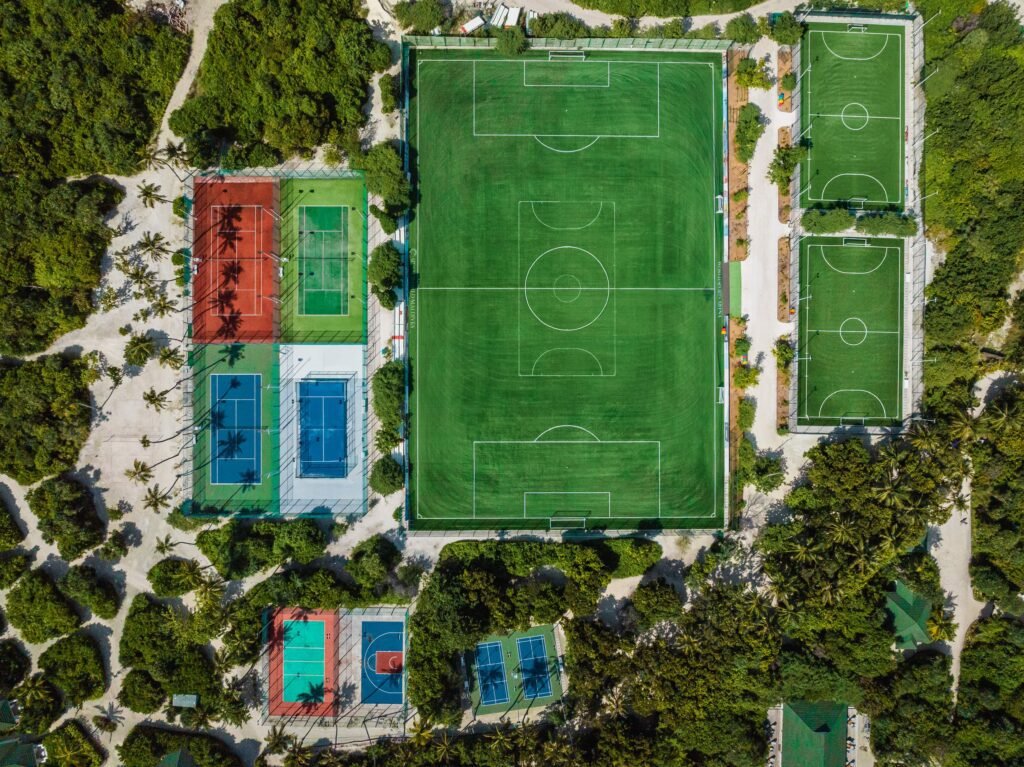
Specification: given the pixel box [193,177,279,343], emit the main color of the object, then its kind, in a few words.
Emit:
red tennis court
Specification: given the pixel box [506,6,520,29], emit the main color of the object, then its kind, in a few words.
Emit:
white vehicle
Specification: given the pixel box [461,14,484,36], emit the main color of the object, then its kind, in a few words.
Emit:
white truck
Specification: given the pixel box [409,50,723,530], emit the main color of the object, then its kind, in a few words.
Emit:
green soccer field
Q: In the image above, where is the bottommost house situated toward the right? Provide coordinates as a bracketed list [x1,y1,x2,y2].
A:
[780,699,847,767]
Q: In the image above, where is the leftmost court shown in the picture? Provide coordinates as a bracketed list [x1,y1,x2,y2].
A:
[108,396,163,488]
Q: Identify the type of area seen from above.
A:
sports ground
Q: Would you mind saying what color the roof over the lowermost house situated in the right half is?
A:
green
